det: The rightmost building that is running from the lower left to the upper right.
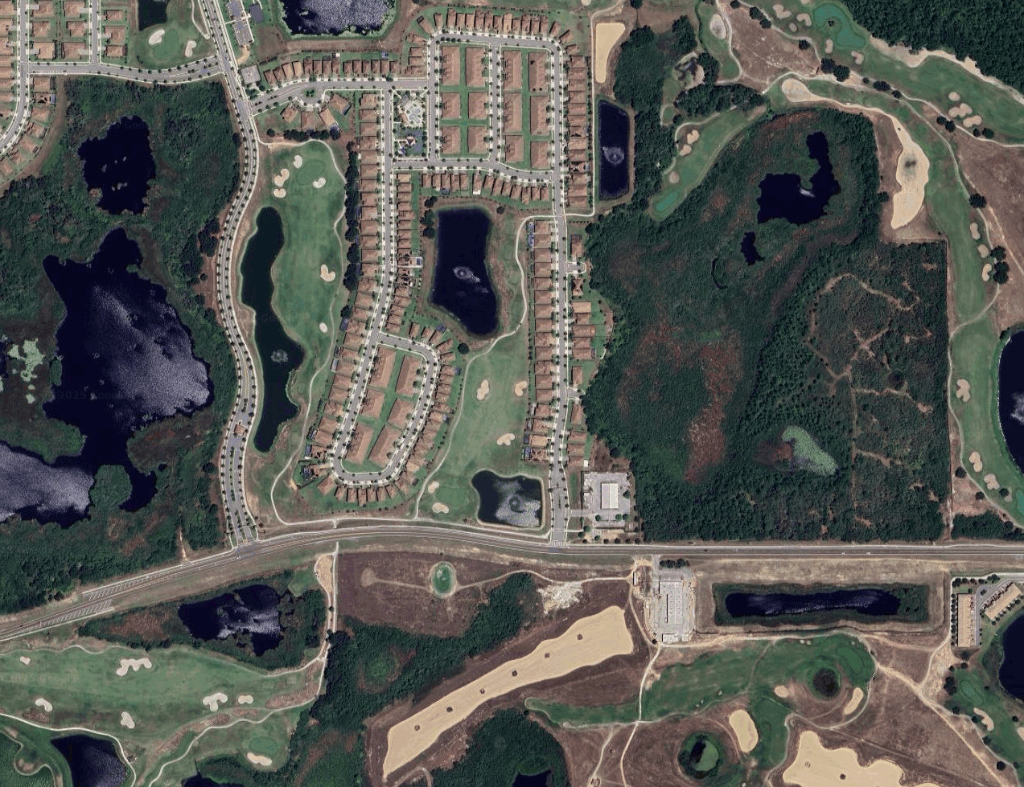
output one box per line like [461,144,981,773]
[985,584,1022,621]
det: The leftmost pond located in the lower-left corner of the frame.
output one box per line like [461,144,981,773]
[50,735,127,787]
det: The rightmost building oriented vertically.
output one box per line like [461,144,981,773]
[958,594,971,648]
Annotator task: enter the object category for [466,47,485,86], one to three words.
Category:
building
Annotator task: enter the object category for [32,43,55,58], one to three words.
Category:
house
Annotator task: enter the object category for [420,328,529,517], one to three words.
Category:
golf course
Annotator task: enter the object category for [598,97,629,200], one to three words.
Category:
pond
